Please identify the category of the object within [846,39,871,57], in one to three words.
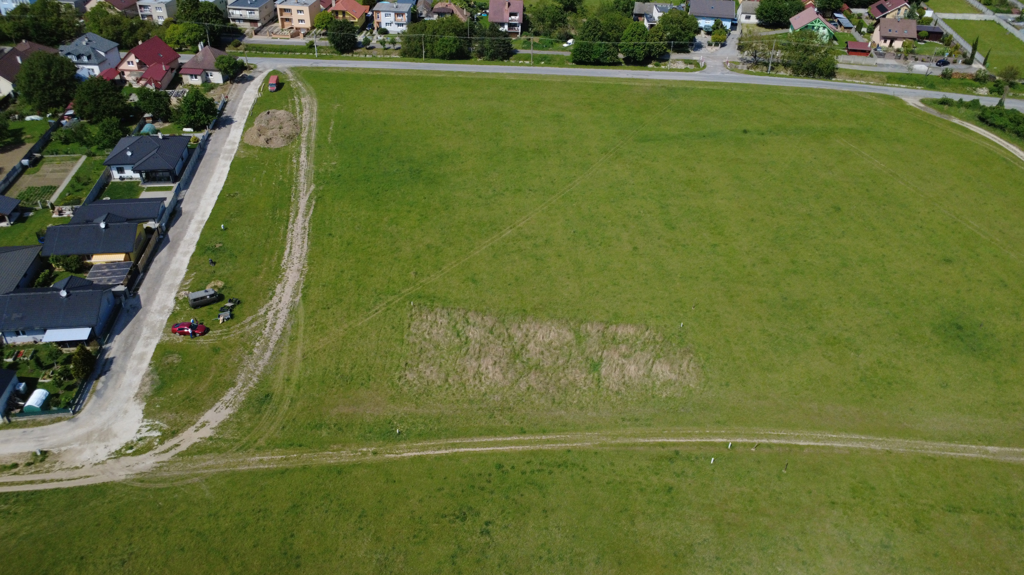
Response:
shed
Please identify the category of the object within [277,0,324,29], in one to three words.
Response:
house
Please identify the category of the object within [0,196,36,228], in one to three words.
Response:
gazebo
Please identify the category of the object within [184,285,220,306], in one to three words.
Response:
vehicle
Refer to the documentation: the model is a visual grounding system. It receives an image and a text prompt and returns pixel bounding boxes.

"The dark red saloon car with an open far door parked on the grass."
[167,315,209,337]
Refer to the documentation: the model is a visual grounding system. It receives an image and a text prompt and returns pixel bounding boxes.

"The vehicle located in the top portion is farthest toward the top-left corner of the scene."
[266,74,281,88]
